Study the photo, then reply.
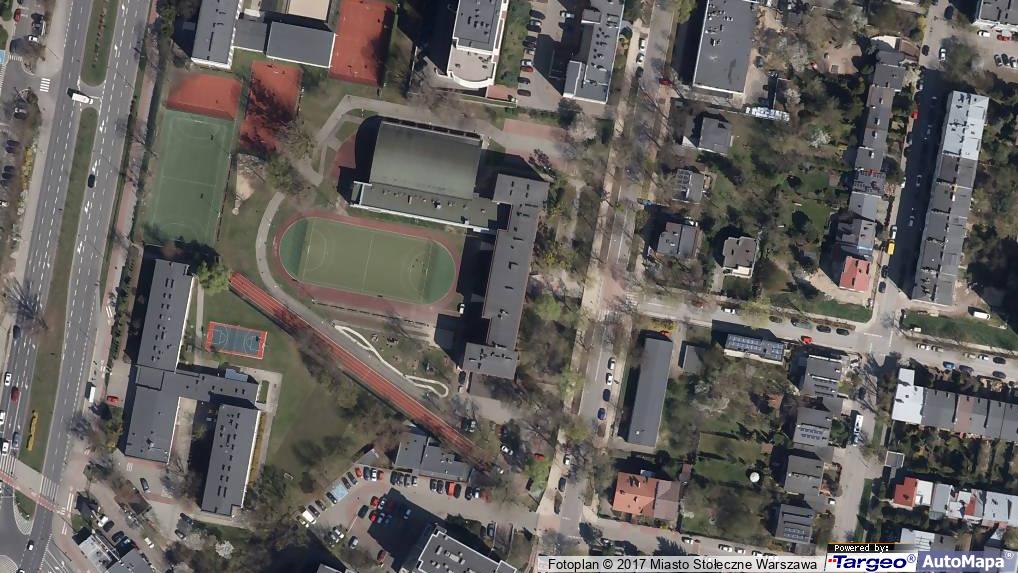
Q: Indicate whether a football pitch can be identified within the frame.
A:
Yes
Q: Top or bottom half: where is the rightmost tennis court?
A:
top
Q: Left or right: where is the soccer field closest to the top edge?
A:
left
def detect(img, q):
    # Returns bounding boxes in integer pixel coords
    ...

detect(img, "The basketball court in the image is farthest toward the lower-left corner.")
[207,321,267,358]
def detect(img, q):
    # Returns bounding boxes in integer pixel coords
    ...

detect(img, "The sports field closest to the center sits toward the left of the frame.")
[295,220,437,302]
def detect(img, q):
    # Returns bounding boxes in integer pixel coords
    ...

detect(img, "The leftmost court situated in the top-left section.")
[167,73,241,119]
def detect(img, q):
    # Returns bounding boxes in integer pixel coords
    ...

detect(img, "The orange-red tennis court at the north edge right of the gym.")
[329,0,397,87]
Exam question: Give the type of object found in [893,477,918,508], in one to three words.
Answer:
house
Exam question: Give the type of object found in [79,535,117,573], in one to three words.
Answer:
building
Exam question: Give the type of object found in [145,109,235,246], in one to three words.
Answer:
soccer field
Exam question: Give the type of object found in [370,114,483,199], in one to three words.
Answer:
building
